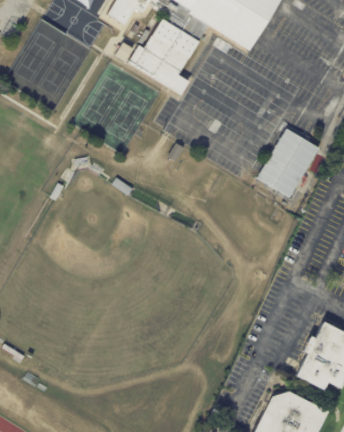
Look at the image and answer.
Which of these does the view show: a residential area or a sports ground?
sports ground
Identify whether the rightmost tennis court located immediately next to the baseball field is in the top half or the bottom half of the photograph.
top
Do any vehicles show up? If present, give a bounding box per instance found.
[252,324,262,332]
[290,248,299,254]
[256,314,266,322]
[286,358,299,368]
[248,334,258,342]
[284,256,294,264]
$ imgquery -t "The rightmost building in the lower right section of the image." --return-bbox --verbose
[294,322,344,390]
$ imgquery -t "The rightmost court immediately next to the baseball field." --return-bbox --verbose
[74,59,160,151]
